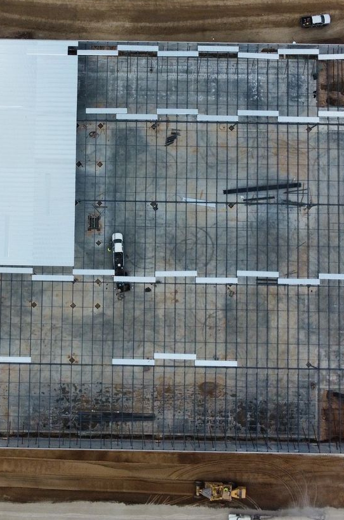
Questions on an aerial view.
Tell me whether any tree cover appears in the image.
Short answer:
No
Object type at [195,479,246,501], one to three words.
work vehicle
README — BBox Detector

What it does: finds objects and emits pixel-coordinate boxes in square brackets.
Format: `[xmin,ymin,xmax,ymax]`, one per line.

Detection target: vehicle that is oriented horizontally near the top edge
[299,14,331,30]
